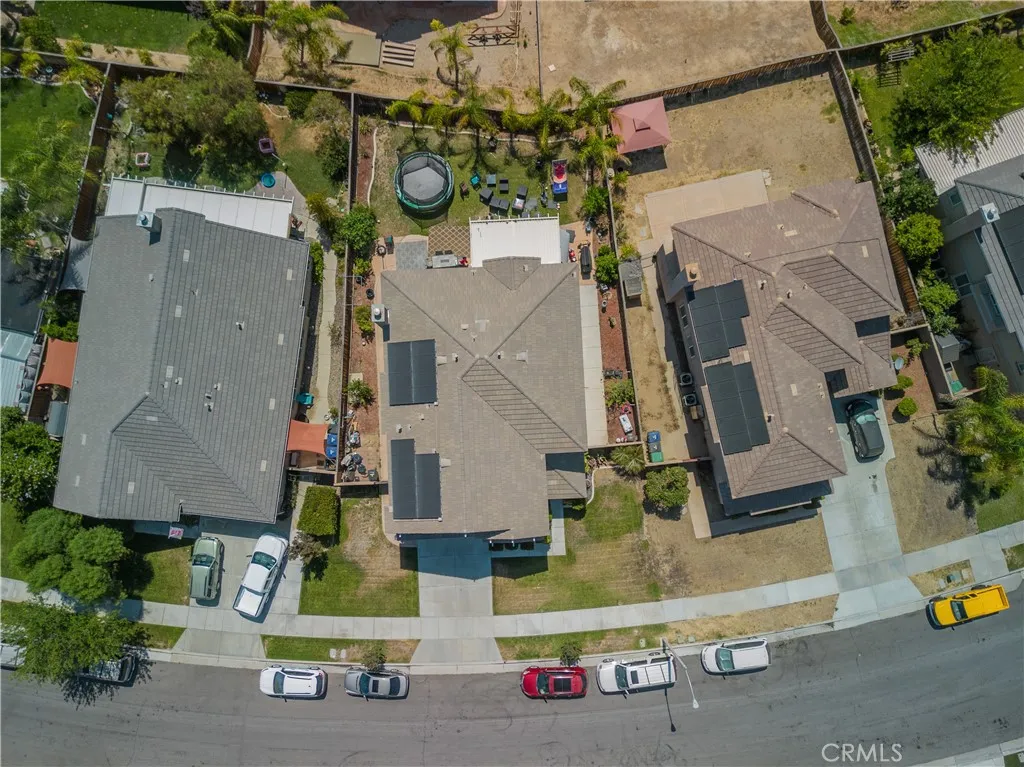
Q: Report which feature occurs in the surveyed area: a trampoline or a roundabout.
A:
trampoline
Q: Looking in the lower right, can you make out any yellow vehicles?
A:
Yes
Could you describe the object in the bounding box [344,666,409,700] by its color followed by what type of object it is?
gray car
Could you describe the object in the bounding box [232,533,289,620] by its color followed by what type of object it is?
white truck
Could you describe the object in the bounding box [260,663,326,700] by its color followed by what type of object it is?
white car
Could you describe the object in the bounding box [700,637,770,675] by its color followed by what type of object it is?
white car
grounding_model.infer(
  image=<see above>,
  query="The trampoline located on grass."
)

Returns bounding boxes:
[394,154,454,220]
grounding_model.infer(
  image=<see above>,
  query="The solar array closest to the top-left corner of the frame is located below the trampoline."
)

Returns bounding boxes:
[387,340,435,405]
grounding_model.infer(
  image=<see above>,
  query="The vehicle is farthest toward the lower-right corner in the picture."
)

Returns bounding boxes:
[924,583,1013,627]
